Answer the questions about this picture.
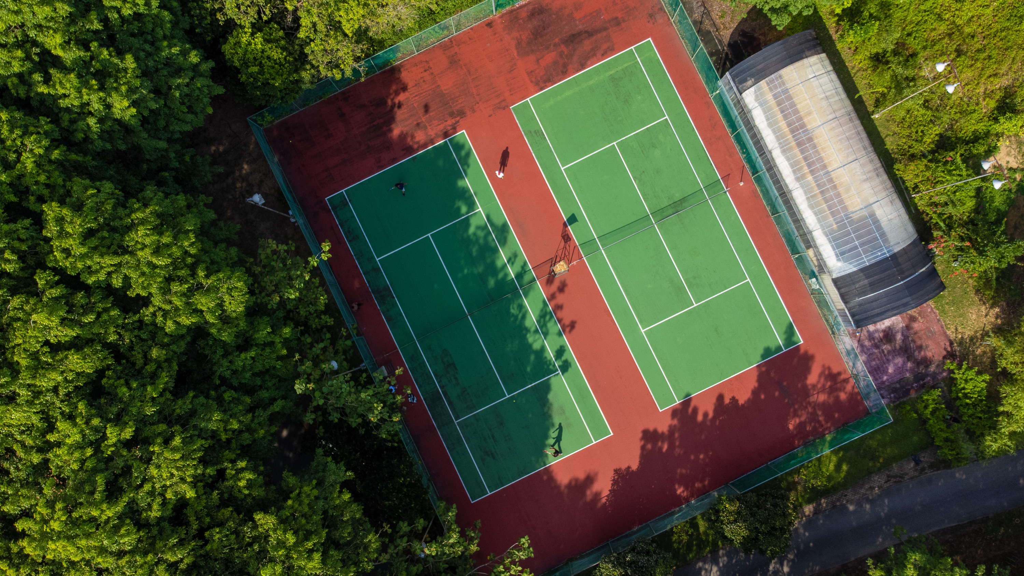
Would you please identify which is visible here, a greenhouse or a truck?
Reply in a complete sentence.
The image shows a greenhouse.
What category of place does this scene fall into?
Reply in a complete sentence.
It's a sports ground.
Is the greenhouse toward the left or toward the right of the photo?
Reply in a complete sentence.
It is on the right.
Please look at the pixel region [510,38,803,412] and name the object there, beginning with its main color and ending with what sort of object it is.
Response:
green tennis court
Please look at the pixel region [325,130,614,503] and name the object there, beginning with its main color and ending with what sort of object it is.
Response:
green tennis court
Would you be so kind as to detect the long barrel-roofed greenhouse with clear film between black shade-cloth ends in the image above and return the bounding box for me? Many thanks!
[724,29,945,328]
